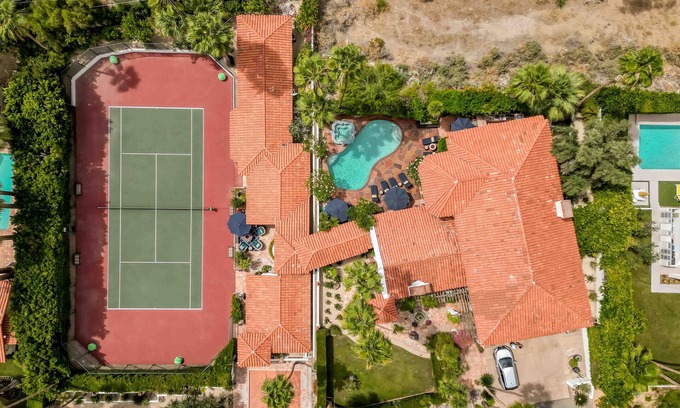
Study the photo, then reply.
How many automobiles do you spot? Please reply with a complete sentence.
I count 1 automobile.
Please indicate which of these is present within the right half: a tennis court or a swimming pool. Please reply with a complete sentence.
Looking within the right half, you will find a swimming pool.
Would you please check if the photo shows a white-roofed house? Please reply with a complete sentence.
No, the frame has no white-roofed house in it.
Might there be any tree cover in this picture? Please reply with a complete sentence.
Yes, tree cover can be seen from above here.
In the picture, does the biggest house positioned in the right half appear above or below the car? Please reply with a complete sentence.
In the image, the biggest house positioned in the right half sits above the car.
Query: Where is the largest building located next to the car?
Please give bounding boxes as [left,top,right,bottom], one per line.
[370,116,592,347]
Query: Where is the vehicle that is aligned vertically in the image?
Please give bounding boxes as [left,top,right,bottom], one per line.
[493,345,519,389]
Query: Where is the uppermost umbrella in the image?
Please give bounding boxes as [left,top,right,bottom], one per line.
[448,112,476,137]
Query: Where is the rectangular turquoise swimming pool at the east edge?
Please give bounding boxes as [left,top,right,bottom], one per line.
[639,122,680,171]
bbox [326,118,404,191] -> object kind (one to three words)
swimming pool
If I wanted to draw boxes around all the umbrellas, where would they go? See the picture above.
[384,185,410,211]
[324,197,349,223]
[225,209,251,235]
[448,112,476,137]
